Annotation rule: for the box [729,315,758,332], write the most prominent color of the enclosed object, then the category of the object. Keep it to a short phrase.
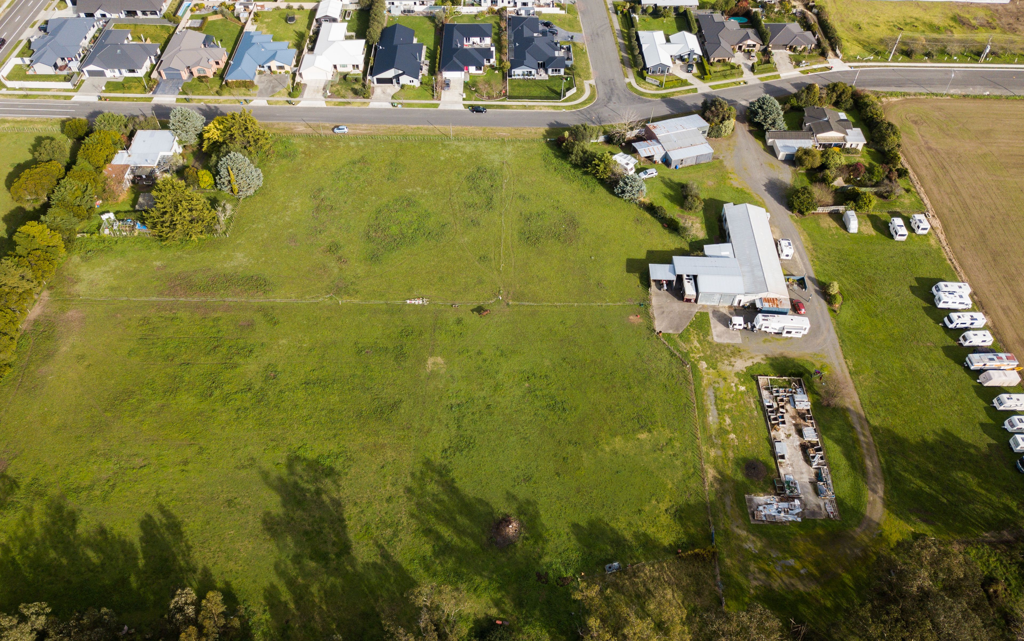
white vehicle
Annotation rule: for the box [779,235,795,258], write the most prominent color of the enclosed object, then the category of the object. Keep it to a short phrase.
white camper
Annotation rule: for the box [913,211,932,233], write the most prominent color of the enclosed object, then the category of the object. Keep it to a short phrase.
white camper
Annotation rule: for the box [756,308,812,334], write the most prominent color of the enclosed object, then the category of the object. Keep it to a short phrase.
white vehicle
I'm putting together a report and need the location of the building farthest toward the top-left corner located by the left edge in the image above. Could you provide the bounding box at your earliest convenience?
[30,18,97,74]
